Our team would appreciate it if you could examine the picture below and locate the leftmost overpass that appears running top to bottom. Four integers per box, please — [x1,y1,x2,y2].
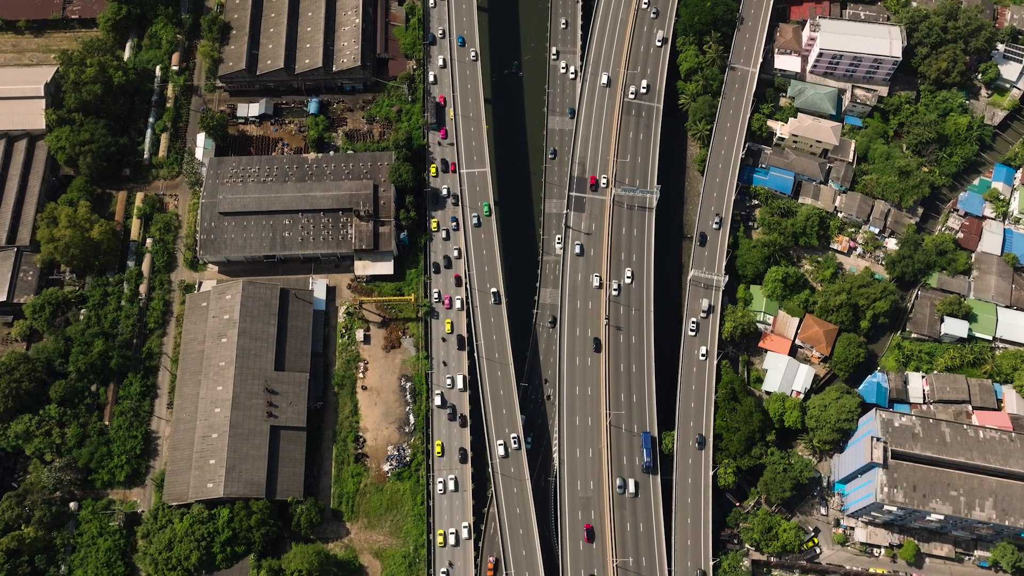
[447,0,544,576]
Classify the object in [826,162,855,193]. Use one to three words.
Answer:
house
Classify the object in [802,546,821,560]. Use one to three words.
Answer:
vehicle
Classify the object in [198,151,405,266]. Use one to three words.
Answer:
warehouse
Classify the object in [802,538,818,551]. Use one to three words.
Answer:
vehicle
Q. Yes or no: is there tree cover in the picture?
Yes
